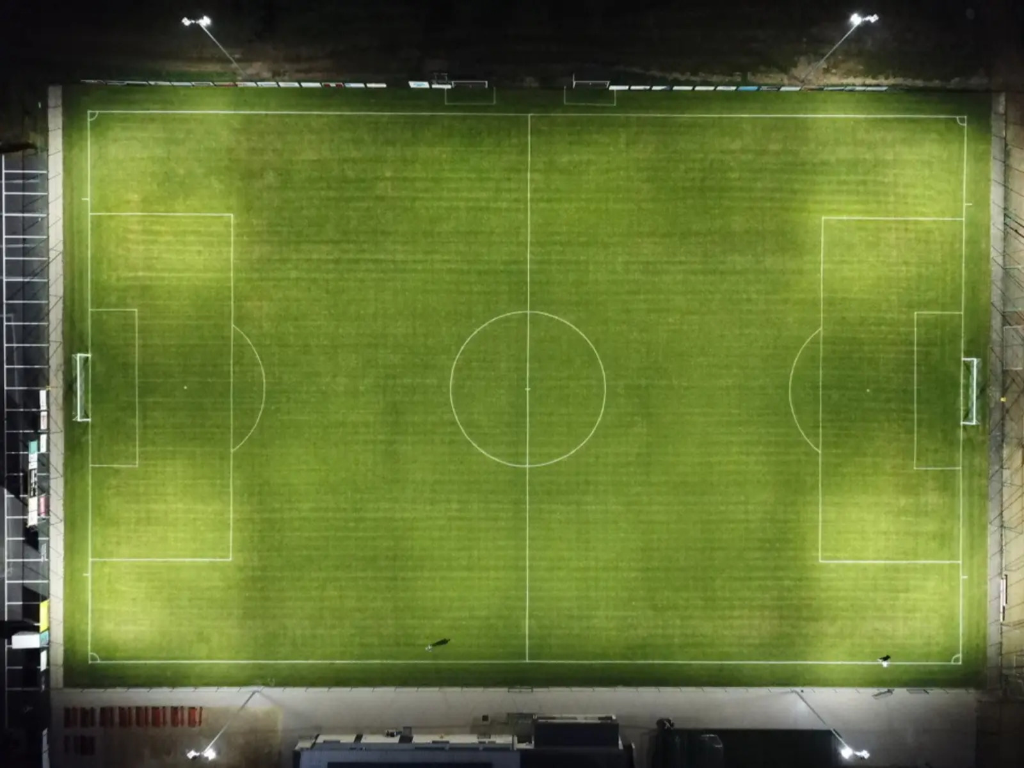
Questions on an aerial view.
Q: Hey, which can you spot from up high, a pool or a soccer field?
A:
soccer field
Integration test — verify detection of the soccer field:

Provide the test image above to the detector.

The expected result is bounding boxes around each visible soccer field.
[63,86,991,688]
